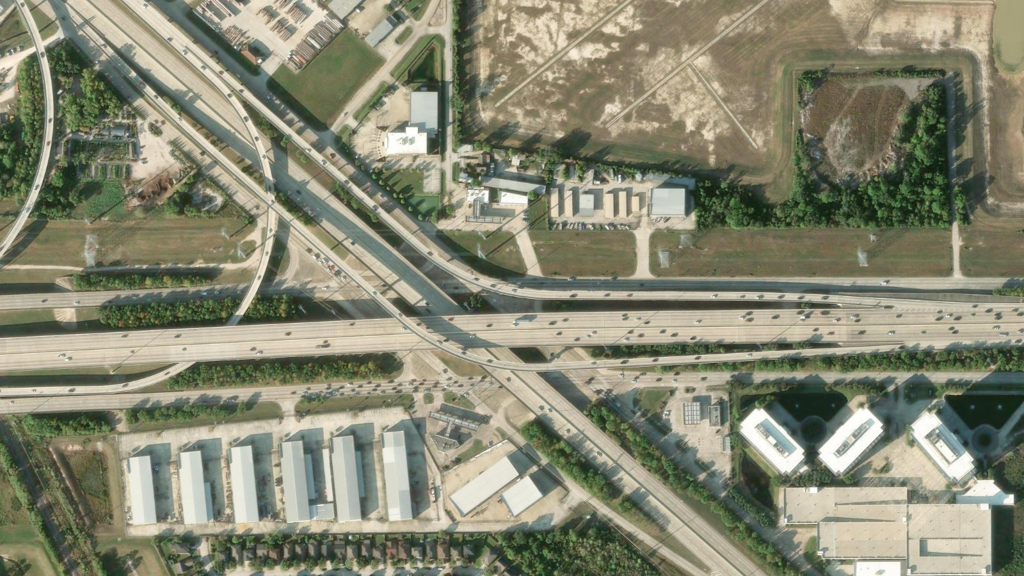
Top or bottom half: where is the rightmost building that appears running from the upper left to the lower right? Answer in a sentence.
It is in the bottom half that the rightmost building that appears running from the upper left to the lower right appears.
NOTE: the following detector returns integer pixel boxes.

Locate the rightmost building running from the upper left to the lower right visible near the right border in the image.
[912,413,974,486]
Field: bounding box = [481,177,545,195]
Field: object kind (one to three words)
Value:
shed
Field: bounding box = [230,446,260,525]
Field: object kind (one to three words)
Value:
building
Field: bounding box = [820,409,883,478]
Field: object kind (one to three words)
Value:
building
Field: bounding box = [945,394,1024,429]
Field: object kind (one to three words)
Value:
pond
